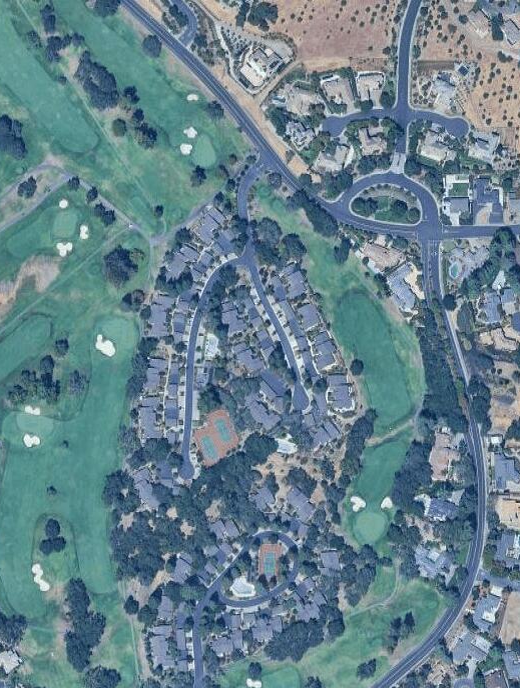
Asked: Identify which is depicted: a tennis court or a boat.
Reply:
tennis court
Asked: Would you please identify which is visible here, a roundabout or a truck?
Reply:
roundabout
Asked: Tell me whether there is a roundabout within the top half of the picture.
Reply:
Yes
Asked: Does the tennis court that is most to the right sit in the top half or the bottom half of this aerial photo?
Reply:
bottom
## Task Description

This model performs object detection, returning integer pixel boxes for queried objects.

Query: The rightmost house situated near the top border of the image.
[500,14,520,46]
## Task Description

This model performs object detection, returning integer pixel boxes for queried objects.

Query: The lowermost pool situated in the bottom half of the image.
[232,577,251,595]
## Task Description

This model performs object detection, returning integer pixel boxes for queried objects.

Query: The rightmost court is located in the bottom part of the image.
[259,545,282,578]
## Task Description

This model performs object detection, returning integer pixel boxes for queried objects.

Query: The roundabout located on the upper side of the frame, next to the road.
[336,171,435,230]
